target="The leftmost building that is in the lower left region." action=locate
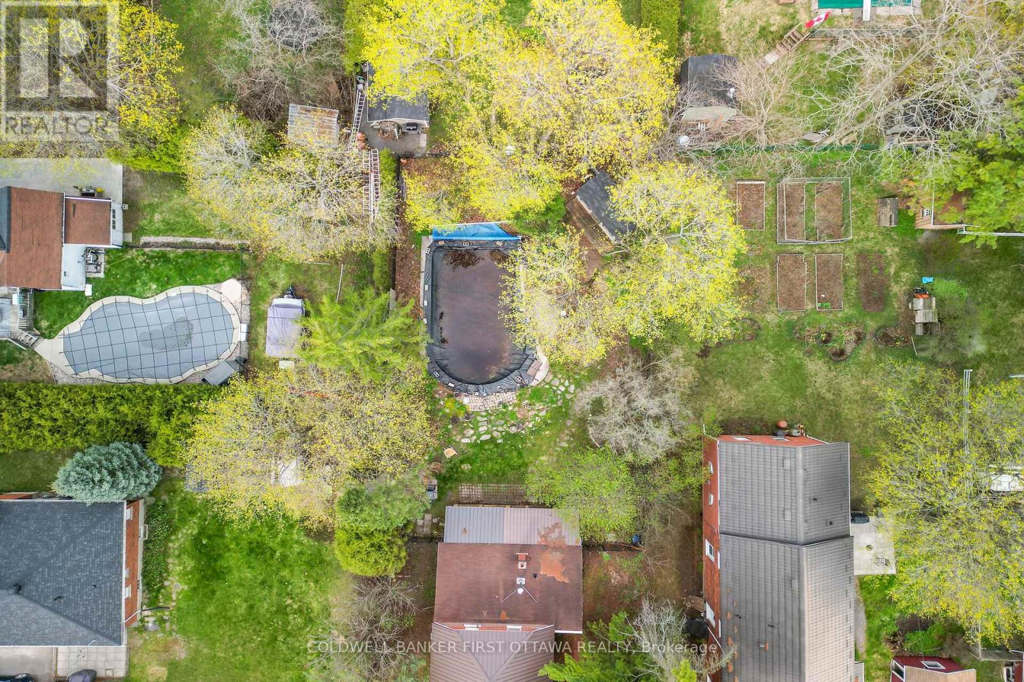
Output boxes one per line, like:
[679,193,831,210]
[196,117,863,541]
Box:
[0,490,153,648]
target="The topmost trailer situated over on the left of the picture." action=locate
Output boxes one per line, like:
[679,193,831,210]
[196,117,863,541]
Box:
[265,285,306,355]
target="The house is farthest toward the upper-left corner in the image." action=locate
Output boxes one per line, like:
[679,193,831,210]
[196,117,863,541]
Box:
[0,187,127,291]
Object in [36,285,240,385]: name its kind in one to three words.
swimming pool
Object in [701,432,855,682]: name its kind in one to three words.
house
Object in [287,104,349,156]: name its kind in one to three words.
shed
